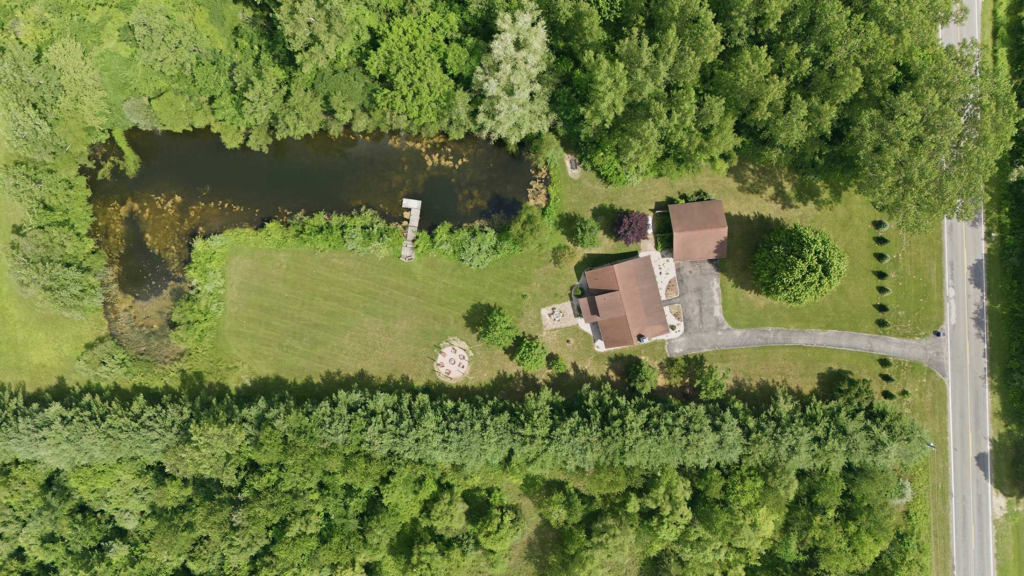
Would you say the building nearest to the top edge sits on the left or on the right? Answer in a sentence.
You can find the building nearest to the top edge on the right side of the picture.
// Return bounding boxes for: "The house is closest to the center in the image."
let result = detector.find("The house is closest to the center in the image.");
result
[578,256,669,350]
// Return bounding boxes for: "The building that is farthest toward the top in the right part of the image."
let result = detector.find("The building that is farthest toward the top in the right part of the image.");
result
[667,199,728,262]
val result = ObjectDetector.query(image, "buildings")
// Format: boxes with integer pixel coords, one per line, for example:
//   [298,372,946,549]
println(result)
[578,256,669,350]
[667,199,728,262]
